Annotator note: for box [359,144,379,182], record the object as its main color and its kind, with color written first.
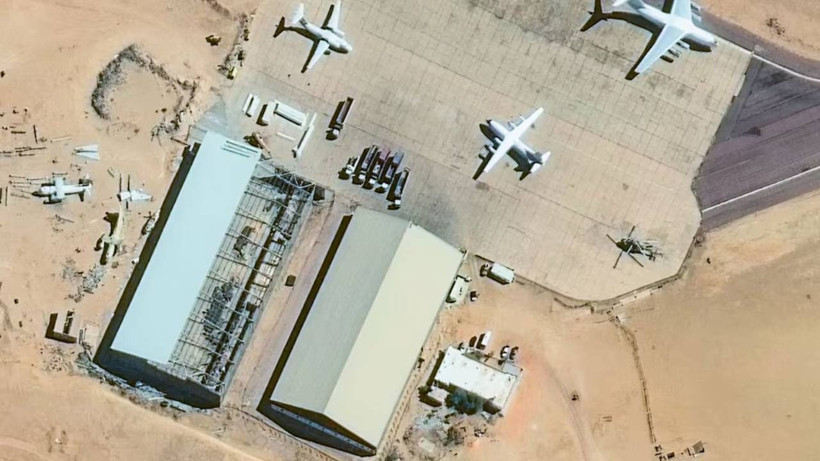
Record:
gray vehicle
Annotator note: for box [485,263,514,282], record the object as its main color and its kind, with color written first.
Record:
white vehicle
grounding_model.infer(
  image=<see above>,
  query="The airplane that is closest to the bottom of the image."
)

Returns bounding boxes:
[100,198,127,259]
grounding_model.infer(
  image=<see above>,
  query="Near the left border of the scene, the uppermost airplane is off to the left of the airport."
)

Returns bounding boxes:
[41,174,92,210]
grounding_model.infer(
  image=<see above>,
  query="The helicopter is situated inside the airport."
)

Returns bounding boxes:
[617,219,664,259]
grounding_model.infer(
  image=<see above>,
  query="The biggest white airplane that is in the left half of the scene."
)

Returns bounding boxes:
[292,2,352,66]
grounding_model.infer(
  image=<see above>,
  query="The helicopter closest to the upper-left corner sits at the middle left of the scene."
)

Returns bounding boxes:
[144,207,160,236]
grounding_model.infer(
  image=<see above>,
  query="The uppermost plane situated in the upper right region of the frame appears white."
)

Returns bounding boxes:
[612,0,717,70]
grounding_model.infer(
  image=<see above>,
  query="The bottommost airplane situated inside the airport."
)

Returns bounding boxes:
[480,103,549,174]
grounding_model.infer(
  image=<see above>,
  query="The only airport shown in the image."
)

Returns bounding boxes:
[186,0,820,302]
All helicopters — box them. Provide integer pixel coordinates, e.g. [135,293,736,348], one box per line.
[144,207,160,236]
[617,219,664,259]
